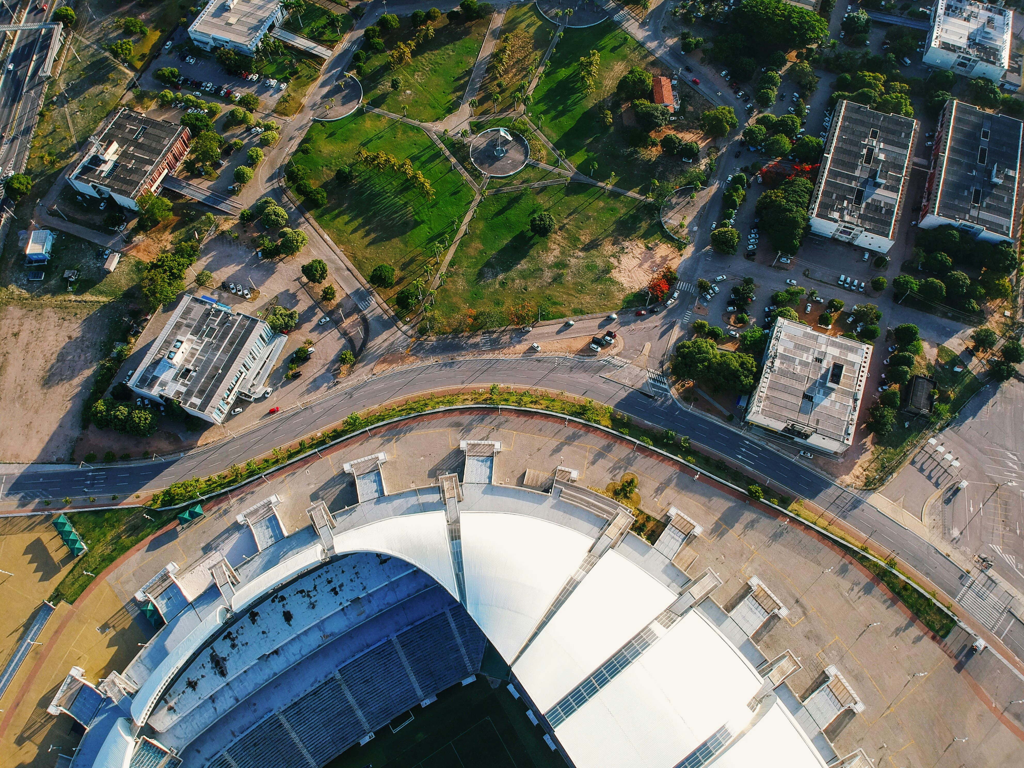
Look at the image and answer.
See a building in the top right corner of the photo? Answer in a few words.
Yes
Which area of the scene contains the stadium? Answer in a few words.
bottom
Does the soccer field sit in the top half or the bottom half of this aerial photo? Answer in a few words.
bottom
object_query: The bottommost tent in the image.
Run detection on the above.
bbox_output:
[139,602,164,631]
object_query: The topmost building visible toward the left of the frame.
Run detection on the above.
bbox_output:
[186,0,297,68]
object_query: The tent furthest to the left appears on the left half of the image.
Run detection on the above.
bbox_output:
[51,513,93,560]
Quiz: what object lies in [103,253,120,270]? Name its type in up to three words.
vehicle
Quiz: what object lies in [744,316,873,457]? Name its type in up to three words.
building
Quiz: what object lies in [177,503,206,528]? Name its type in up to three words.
tent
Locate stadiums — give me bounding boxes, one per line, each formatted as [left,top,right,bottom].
[50,443,874,768]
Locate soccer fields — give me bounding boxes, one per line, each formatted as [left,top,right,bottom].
[317,669,570,768]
